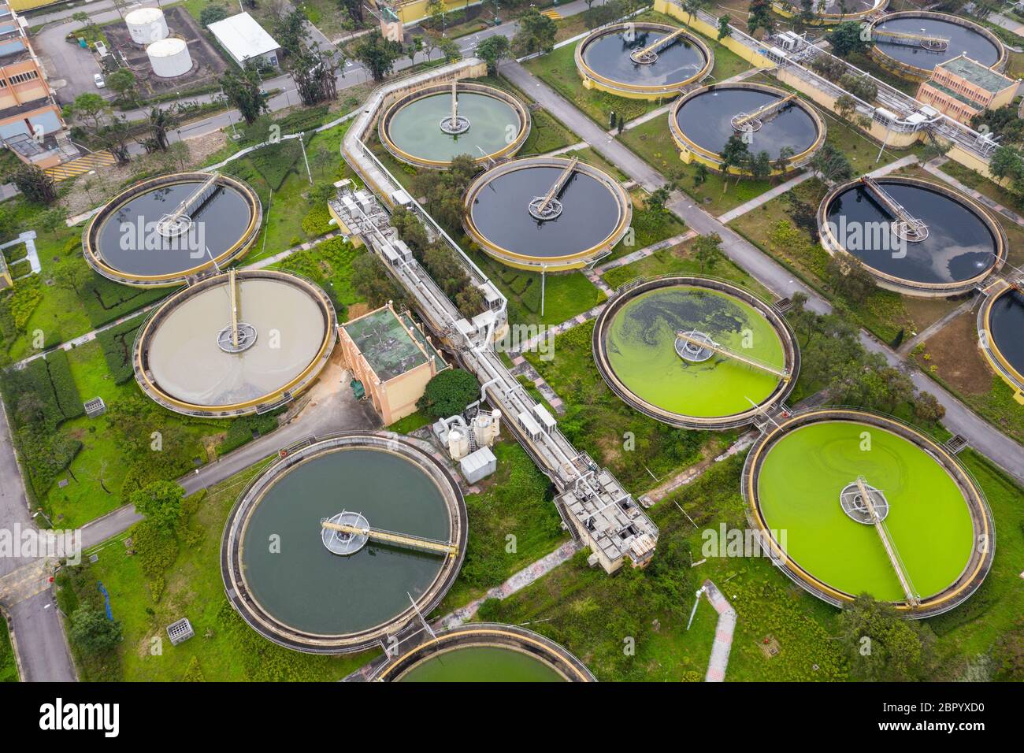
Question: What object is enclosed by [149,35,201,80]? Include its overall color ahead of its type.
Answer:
white storage tank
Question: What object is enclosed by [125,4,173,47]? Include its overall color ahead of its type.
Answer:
white storage tank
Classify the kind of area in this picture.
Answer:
industrial area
